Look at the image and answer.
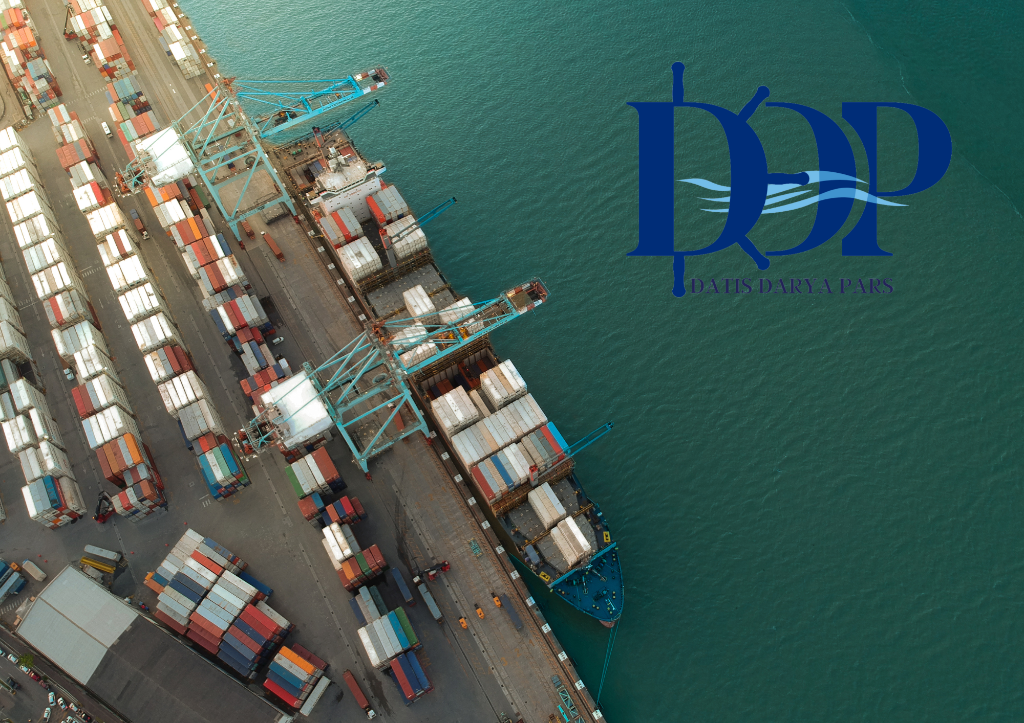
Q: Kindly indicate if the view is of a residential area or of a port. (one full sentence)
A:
The area seen from above is a port.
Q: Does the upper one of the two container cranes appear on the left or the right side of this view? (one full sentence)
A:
The upper one of the two container cranes is on the left side of the image.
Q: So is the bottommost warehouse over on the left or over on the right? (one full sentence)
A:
You can find the bottommost warehouse on the left side of the picture.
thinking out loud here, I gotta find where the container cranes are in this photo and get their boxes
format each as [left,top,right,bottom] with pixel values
[119,63,394,249]
[234,272,552,481]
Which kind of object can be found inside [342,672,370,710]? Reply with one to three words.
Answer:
shipping container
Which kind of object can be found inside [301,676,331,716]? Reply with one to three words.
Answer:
shipping container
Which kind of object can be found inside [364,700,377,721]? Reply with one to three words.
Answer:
vehicle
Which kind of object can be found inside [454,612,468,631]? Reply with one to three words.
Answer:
work vehicle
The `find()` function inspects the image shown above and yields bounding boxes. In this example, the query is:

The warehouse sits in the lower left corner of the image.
[9,562,291,723]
